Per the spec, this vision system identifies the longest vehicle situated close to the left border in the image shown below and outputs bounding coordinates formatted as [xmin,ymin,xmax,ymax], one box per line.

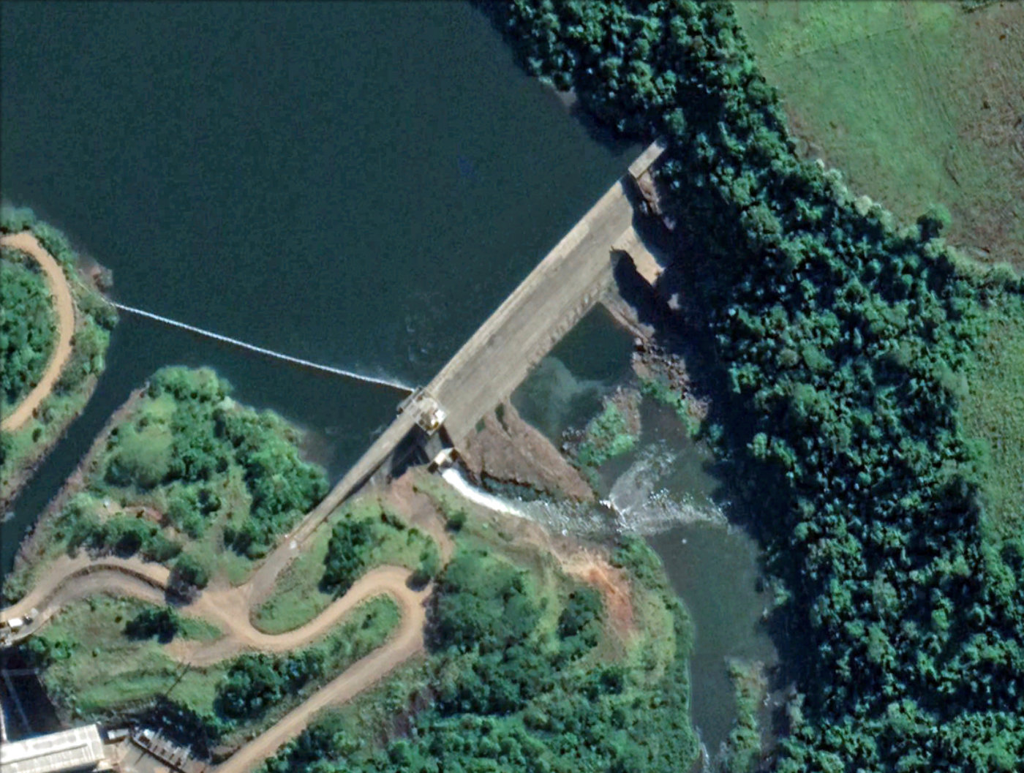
[7,616,29,628]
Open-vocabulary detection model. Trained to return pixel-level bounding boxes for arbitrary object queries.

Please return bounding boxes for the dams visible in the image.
[290,139,682,543]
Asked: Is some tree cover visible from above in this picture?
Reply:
Yes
